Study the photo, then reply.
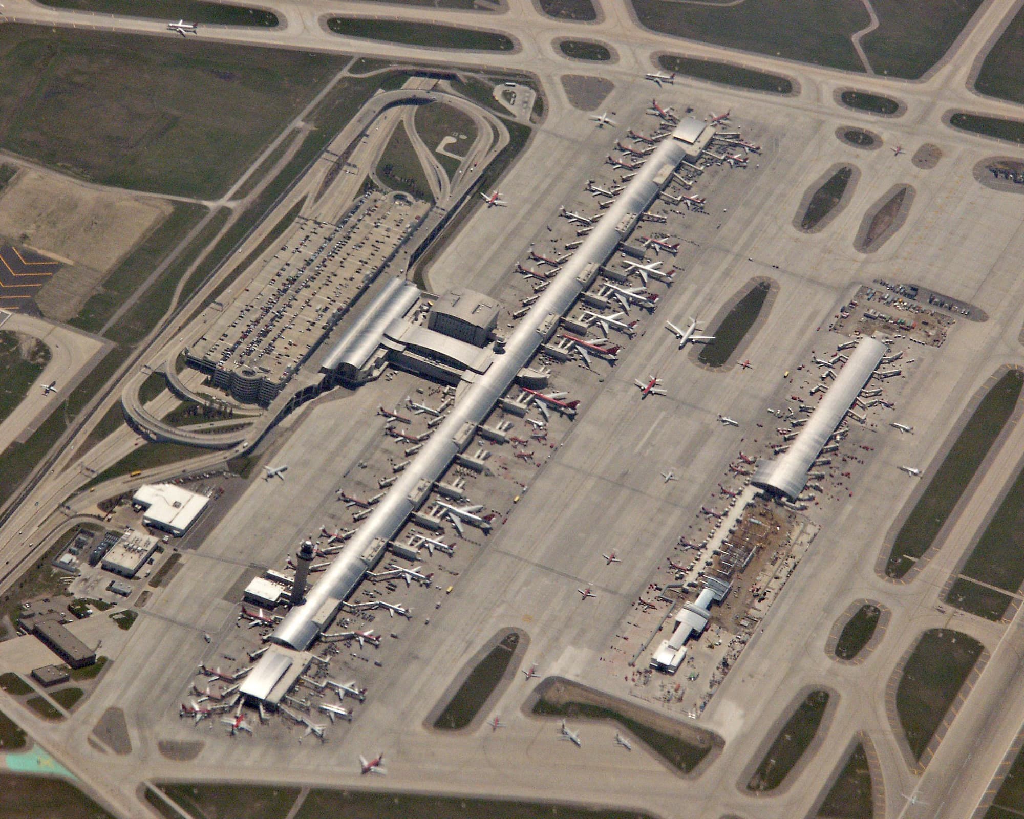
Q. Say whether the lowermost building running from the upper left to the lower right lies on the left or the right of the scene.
left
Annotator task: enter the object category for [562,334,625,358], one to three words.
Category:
airplane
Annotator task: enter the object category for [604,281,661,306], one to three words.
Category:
airplane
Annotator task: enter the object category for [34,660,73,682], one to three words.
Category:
building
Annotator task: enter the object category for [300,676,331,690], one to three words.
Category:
jet bridge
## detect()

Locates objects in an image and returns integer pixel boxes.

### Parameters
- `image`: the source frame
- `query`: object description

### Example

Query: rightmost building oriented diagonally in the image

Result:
[741,336,893,503]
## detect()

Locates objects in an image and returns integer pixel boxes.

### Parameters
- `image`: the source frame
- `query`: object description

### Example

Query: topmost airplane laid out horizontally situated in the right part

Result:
[646,68,680,83]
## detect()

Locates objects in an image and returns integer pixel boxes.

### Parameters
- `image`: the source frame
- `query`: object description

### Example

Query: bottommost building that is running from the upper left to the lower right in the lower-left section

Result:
[22,605,99,660]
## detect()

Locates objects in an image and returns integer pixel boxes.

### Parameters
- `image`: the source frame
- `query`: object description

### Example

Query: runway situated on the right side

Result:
[898,603,1024,819]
